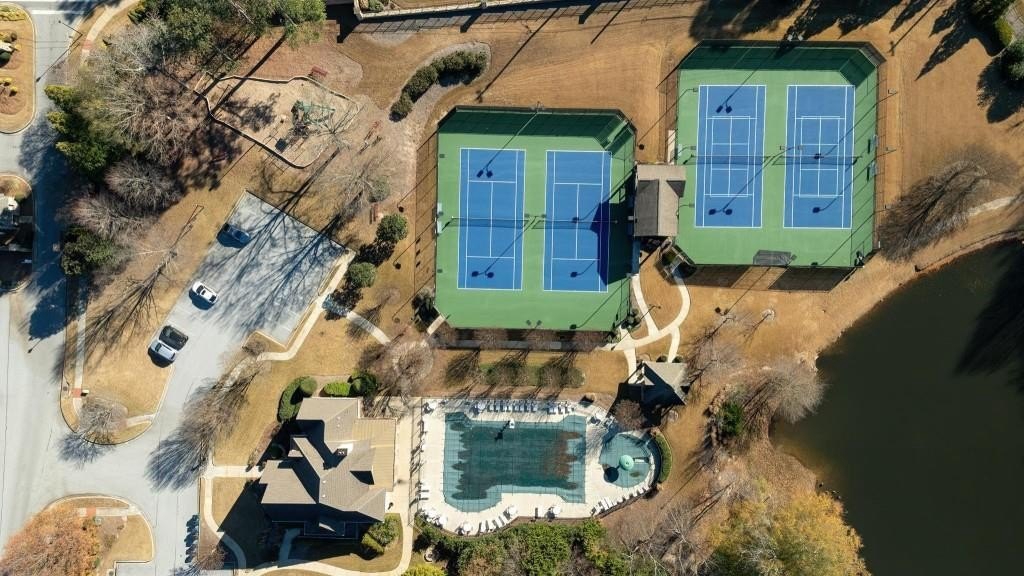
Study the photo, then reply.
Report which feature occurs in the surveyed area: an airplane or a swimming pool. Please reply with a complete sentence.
There is a swimming pool in the scene.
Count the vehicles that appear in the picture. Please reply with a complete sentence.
The picture shows 4 vehicles.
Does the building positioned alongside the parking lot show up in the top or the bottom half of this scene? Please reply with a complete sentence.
The bottom half of the photo is where the building positioned alongside the parking lot is.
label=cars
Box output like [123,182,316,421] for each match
[158,327,187,348]
[147,343,176,364]
[188,284,217,305]
[218,225,247,247]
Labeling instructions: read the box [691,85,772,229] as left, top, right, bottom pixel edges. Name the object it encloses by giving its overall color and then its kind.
blue tennis court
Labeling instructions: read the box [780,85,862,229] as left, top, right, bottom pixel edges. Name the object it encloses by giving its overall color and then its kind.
blue tennis court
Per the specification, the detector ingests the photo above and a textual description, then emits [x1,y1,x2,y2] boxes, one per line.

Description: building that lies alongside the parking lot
[260,398,396,536]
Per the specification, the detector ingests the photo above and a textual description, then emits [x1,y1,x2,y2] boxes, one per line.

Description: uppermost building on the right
[632,165,686,237]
